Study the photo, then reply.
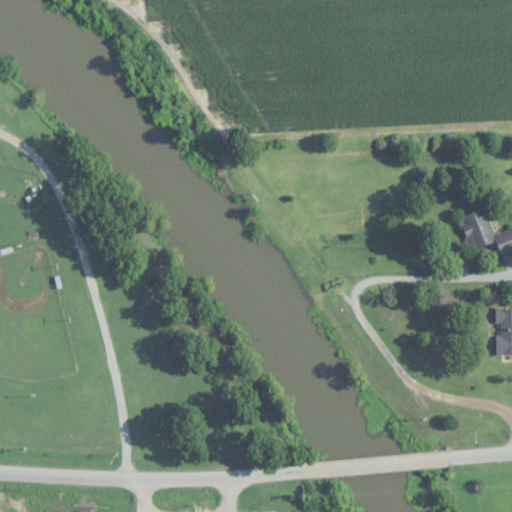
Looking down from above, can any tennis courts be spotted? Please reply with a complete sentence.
No, this view has no tennis court in it.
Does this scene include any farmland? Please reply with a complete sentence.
Yes, there is farmland in the image.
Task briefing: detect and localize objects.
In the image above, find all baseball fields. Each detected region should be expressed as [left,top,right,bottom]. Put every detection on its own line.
[0,248,75,380]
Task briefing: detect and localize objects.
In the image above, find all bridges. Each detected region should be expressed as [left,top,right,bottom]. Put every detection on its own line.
[303,452,448,476]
